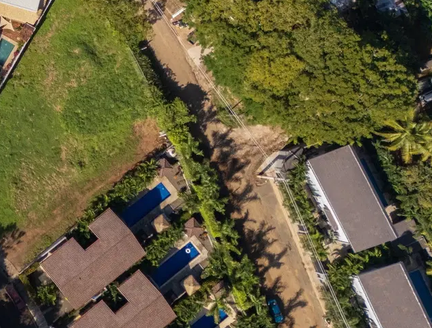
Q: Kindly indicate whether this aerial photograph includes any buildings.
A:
Yes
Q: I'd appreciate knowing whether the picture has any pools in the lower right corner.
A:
Yes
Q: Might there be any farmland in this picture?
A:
No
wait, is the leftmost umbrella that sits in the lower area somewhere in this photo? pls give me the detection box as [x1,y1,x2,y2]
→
[152,213,169,231]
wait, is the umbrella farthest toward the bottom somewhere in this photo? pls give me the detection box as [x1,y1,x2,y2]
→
[182,275,199,293]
